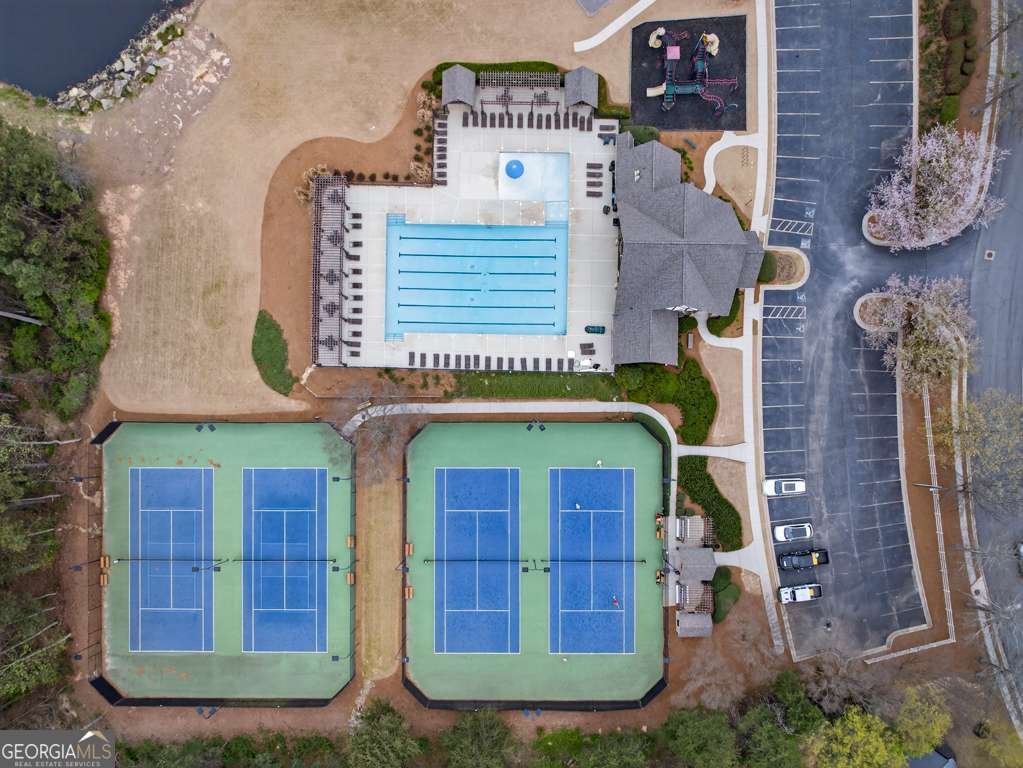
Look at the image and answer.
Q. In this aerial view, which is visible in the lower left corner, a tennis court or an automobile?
tennis court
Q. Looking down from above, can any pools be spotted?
Yes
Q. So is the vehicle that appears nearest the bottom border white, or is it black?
white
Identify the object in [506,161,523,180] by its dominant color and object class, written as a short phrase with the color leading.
blue fountain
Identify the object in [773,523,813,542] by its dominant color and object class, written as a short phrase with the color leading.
white car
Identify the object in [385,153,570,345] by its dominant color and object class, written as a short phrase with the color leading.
blue swimming pool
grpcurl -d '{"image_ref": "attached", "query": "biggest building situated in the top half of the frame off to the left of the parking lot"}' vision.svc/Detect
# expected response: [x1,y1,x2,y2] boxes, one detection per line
[612,131,766,365]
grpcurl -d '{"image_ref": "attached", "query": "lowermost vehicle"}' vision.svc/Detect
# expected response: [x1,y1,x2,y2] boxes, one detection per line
[777,583,823,604]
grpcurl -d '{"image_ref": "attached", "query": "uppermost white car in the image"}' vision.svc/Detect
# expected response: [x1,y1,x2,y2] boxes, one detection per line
[763,478,806,497]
